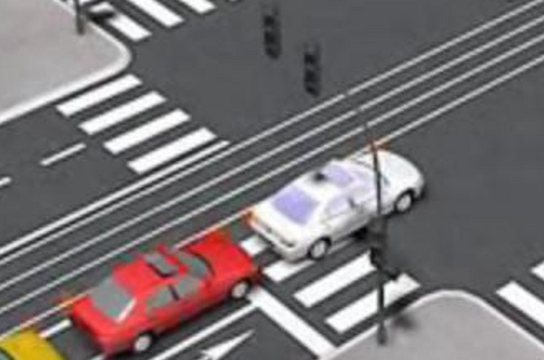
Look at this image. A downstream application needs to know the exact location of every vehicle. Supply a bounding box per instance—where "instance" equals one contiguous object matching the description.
[249,154,424,262]
[69,234,261,357]
[0,329,67,360]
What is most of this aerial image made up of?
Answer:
paved ground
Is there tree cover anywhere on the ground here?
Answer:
No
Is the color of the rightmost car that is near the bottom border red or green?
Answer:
red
